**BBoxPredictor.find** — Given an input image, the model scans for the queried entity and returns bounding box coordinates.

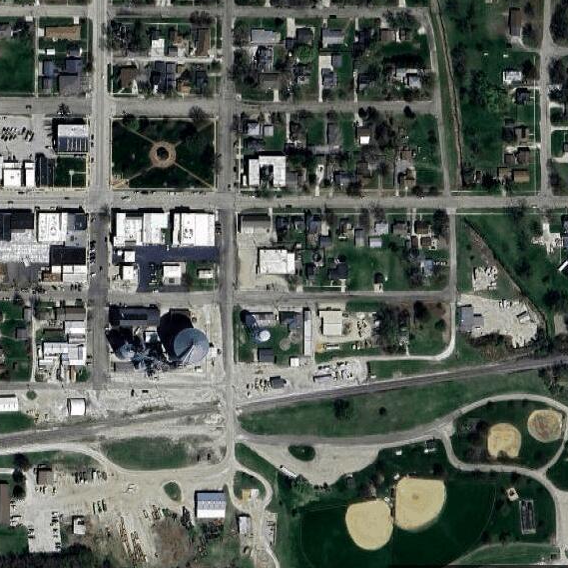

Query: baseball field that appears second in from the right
[489,423,521,460]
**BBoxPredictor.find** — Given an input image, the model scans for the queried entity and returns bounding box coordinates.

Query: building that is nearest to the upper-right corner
[509,7,523,35]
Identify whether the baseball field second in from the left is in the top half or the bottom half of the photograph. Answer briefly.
bottom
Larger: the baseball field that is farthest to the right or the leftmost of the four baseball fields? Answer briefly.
the leftmost of the four baseball fields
